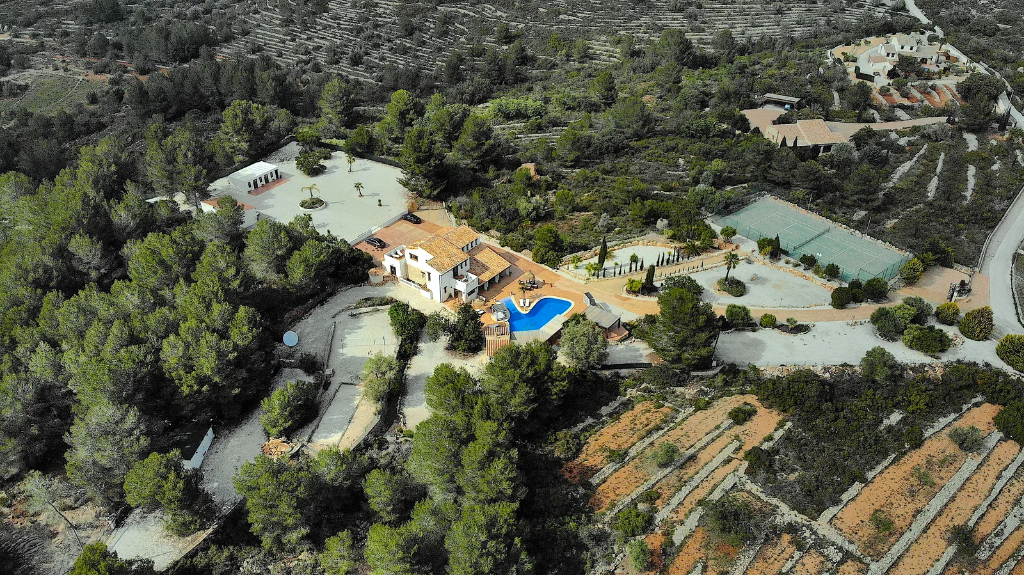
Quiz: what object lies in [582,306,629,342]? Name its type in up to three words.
shed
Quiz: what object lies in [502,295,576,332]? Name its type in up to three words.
swimming pool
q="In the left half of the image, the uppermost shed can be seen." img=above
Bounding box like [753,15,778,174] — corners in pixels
[229,160,293,194]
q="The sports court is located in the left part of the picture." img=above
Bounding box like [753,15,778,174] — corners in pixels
[330,309,400,384]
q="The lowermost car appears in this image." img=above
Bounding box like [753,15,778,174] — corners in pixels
[363,235,385,249]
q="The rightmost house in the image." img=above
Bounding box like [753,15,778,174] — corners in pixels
[868,36,965,71]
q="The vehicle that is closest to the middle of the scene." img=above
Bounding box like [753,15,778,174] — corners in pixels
[401,212,422,224]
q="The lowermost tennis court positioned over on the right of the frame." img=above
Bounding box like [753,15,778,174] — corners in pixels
[716,196,914,289]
